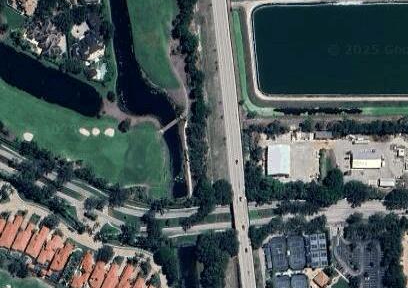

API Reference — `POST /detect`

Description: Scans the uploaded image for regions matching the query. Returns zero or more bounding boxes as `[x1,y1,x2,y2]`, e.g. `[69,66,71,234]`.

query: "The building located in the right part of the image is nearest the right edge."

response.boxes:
[352,148,381,168]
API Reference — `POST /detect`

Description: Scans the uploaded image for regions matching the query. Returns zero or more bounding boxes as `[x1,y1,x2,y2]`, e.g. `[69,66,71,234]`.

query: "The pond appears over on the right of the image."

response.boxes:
[253,3,408,95]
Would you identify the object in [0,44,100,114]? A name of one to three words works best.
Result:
pond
